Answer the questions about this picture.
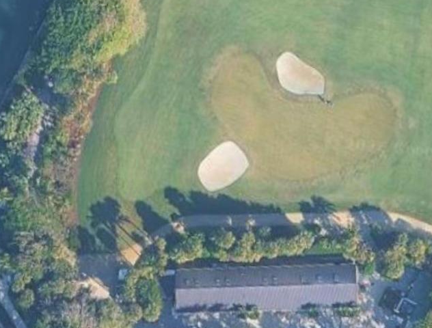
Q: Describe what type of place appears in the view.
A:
golf course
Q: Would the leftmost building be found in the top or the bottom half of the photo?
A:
bottom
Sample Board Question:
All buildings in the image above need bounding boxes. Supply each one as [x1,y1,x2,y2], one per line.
[173,264,357,313]
[379,285,413,319]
